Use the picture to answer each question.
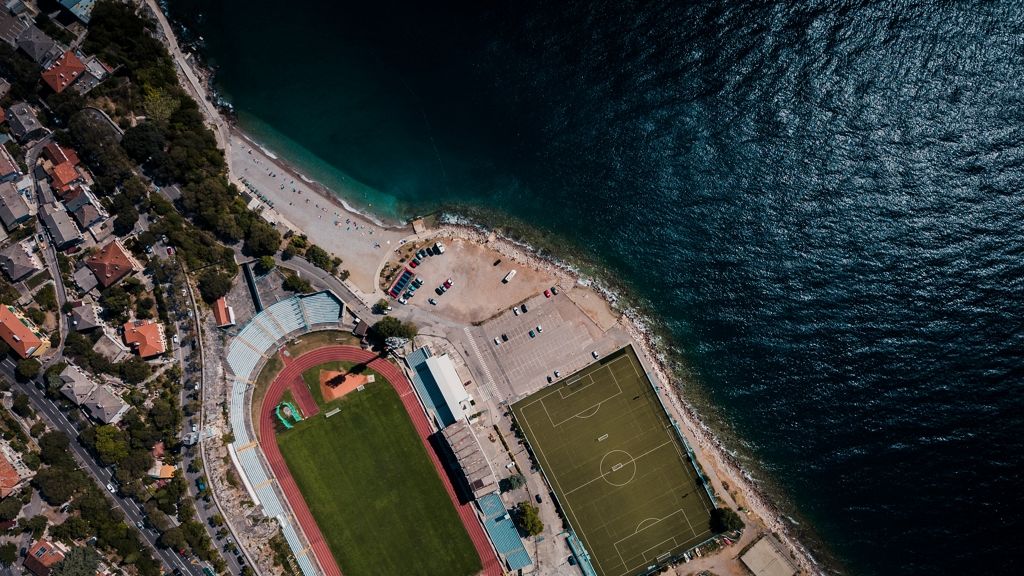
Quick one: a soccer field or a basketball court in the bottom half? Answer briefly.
soccer field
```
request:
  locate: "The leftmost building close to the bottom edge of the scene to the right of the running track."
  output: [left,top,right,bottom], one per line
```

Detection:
[566,532,597,576]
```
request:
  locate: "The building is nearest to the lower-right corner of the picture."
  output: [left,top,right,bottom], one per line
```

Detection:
[739,535,800,576]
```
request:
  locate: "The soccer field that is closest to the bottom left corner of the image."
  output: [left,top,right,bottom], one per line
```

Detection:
[274,361,485,576]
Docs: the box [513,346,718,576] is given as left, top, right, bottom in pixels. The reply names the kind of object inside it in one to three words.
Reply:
soccer field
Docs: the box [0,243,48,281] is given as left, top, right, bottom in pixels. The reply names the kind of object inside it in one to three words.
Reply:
house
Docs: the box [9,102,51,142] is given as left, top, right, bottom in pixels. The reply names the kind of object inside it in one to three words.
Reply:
house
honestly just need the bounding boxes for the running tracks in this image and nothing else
[259,345,507,576]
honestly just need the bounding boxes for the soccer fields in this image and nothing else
[513,346,718,576]
[274,361,485,576]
